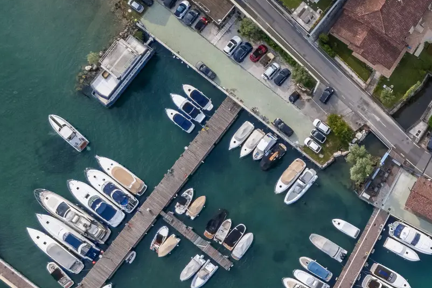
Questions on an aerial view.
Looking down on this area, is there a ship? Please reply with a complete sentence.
Yes, there is a ship in the image.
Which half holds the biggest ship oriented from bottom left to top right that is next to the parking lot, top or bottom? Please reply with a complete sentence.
The biggest ship oriented from bottom left to top right that is next to the parking lot sits in the top half of the picture.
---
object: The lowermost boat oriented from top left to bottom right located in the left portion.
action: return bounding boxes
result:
[45,261,80,288]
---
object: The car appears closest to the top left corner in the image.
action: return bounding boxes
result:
[128,0,147,16]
